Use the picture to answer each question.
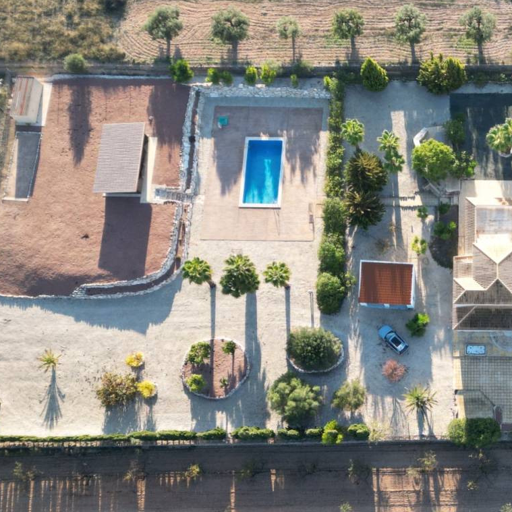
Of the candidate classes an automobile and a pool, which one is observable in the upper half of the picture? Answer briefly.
pool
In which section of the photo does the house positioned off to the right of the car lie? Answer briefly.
right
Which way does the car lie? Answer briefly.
diagonally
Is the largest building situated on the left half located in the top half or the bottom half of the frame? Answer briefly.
top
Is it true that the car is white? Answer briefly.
No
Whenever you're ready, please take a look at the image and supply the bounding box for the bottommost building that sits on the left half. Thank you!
[93,123,153,204]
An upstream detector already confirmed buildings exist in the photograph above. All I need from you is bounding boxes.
[453,196,512,335]
[93,123,153,204]
[358,259,417,311]
[11,76,46,129]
